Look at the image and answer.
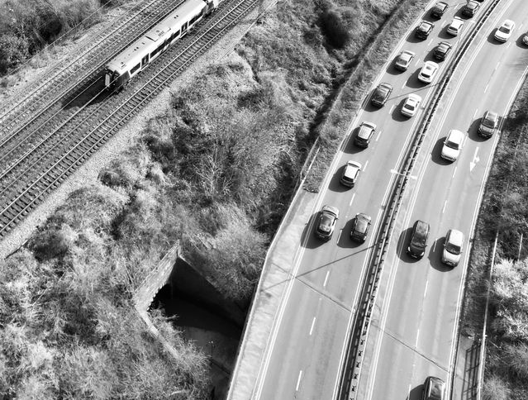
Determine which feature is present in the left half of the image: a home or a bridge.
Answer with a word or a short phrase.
bridge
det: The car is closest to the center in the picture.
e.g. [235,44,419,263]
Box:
[313,206,340,243]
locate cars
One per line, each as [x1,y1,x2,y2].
[393,50,417,75]
[493,20,515,42]
[368,81,394,107]
[313,206,340,243]
[432,42,453,62]
[440,128,465,162]
[444,16,466,37]
[460,0,482,18]
[399,92,422,119]
[413,20,436,42]
[439,227,466,269]
[352,122,376,151]
[429,1,449,20]
[417,61,440,84]
[405,218,431,260]
[347,213,373,247]
[420,374,445,400]
[477,109,499,139]
[338,160,362,189]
